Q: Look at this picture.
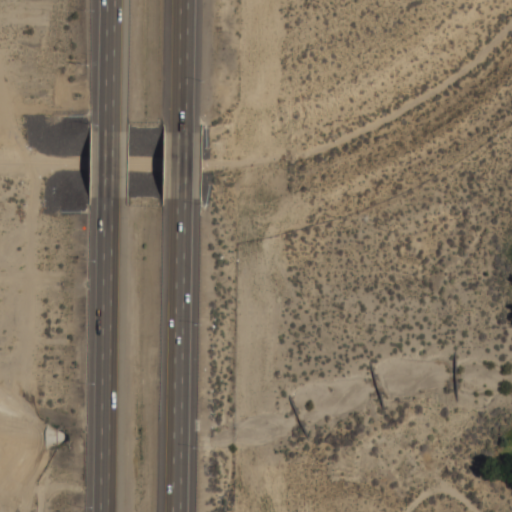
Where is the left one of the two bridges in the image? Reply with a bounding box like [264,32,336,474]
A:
[90,124,128,206]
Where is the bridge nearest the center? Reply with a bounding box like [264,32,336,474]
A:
[163,124,202,206]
